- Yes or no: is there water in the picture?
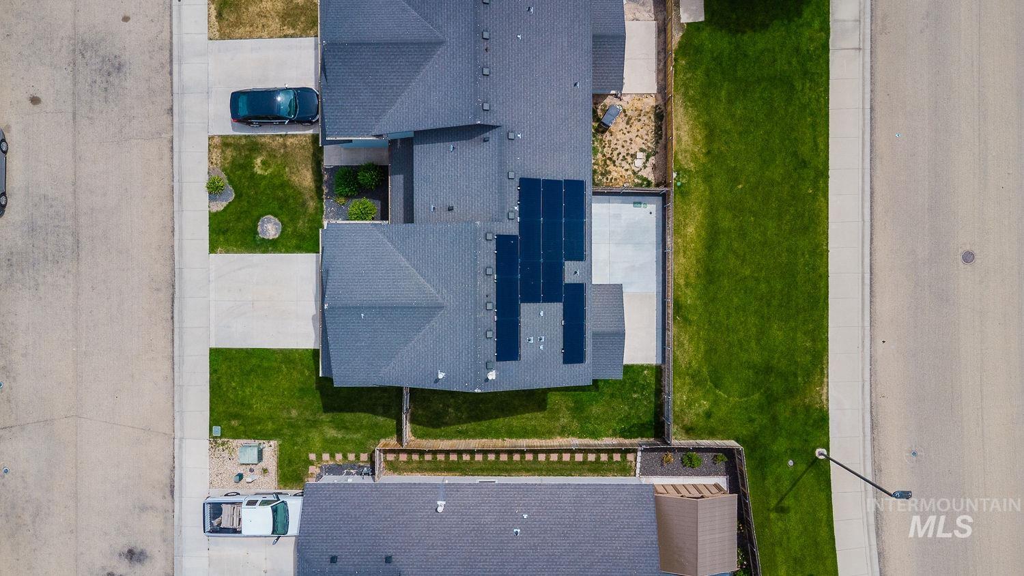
No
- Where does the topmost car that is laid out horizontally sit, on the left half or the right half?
left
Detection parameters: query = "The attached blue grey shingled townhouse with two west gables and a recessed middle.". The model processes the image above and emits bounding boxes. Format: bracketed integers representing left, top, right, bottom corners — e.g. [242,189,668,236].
[317,0,625,393]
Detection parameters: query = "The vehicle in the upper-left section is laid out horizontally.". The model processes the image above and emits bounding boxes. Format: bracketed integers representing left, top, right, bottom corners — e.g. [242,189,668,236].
[230,83,317,126]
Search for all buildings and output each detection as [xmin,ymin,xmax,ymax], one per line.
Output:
[317,0,625,393]
[296,477,660,576]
